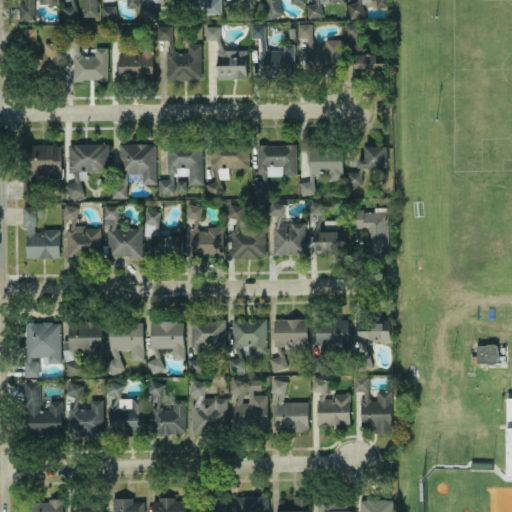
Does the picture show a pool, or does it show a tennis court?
pool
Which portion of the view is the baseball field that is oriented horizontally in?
bottom right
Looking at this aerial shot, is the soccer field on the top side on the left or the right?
right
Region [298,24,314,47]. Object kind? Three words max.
building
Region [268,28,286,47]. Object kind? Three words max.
swimming pool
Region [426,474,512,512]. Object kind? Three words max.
baseball field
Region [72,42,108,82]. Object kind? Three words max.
house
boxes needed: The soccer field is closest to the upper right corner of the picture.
[454,0,512,172]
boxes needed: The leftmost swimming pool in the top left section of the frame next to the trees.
[38,5,59,22]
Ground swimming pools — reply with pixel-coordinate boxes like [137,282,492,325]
[374,344,392,370]
[124,204,140,227]
[222,25,249,46]
[124,381,144,399]
[199,206,221,228]
[366,9,388,20]
[164,204,182,228]
[285,202,307,220]
[80,204,102,226]
[284,0,303,20]
[315,24,342,41]
[42,384,64,399]
[164,352,186,376]
[268,28,286,47]
[128,183,154,200]
[117,0,138,22]
[370,376,389,398]
[38,5,59,22]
